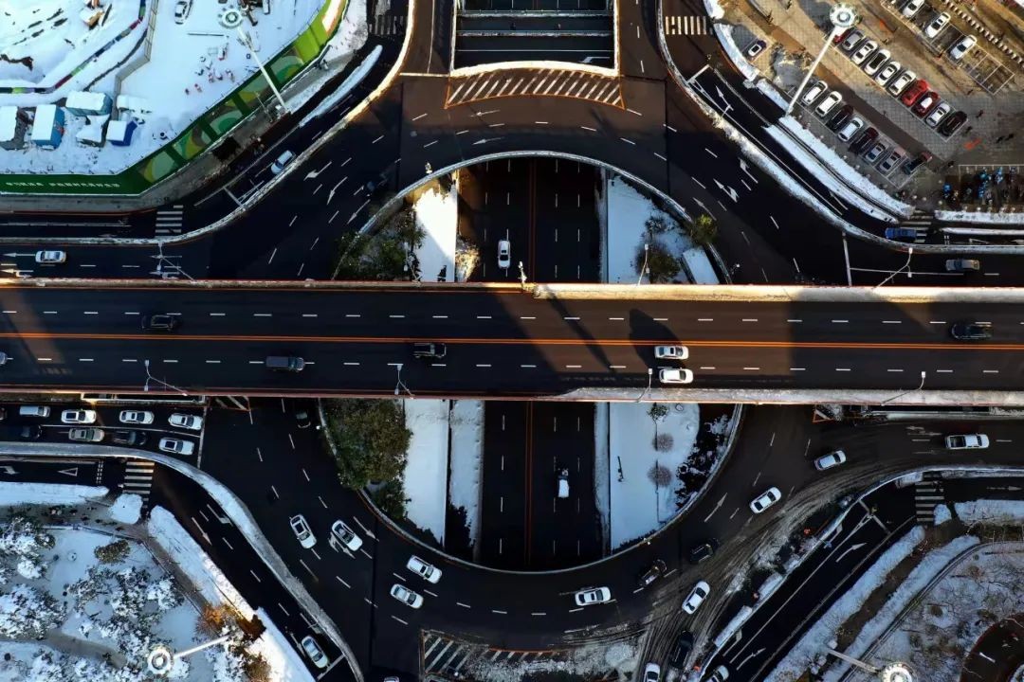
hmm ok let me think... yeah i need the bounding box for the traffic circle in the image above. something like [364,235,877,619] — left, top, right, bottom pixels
[236,94,830,657]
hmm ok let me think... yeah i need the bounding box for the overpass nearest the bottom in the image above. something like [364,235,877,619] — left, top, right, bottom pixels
[0,279,1024,409]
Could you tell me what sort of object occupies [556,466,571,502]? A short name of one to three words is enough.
vehicle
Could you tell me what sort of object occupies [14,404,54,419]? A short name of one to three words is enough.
vehicle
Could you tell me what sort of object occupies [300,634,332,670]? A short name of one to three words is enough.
car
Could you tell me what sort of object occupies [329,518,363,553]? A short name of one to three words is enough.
car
